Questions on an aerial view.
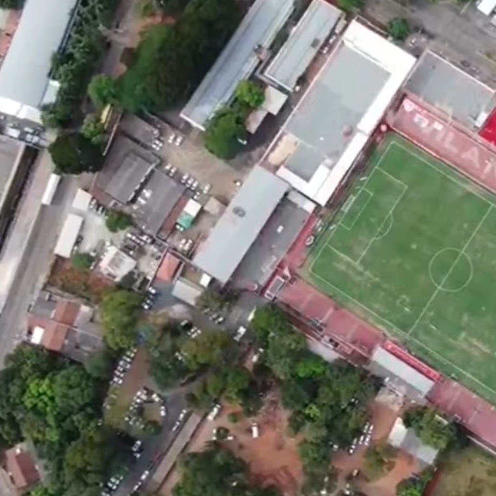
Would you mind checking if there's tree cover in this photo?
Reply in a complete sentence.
Yes, there is tree cover in the image.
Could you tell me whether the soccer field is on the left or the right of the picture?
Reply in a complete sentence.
The soccer field sits on the right side.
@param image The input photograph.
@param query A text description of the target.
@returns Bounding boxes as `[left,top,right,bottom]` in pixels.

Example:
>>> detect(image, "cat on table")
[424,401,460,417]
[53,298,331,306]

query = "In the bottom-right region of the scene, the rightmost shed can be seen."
[401,427,439,465]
